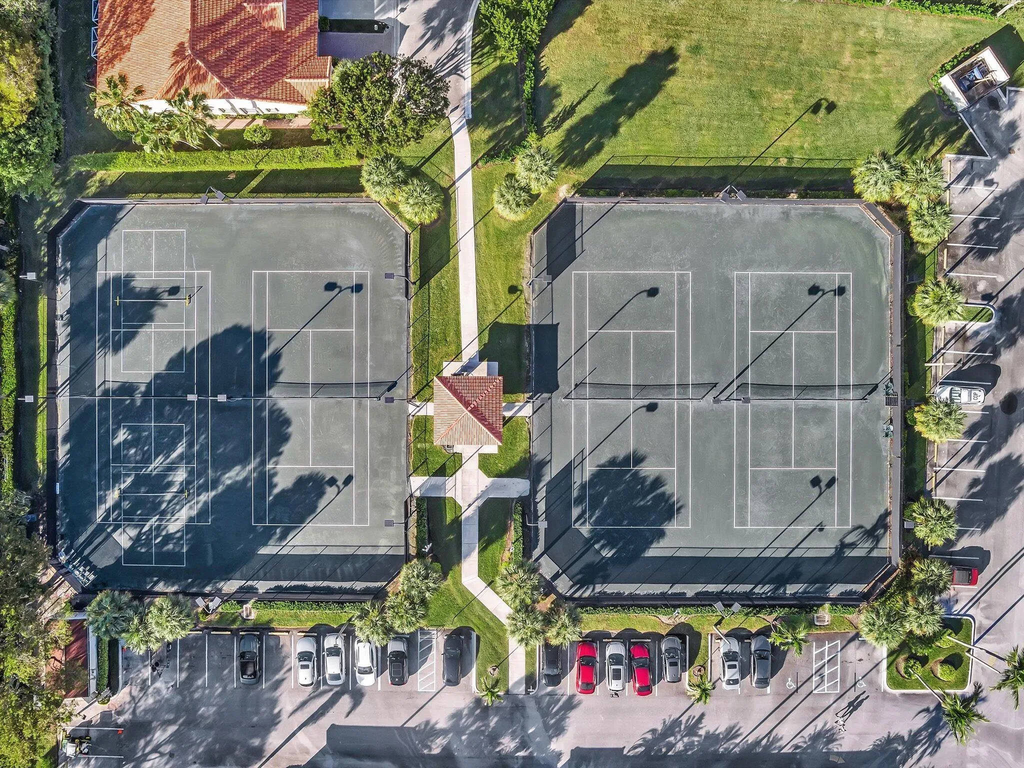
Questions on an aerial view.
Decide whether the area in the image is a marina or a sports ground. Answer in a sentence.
This looks like a sports ground.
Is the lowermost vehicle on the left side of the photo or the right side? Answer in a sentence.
The lowermost vehicle appears in the left half of the scene.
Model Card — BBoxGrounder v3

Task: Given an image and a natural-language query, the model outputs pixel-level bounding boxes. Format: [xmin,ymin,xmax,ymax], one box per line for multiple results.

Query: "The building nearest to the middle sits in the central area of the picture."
[433,376,503,446]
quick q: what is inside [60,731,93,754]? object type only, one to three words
vehicle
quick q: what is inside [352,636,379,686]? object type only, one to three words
car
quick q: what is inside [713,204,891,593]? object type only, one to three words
tennis court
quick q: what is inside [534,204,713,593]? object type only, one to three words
tennis court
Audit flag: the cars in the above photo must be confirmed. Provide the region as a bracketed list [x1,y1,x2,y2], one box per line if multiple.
[629,641,654,696]
[574,640,600,694]
[659,634,685,682]
[603,640,629,692]
[352,636,379,686]
[321,631,348,684]
[748,633,774,688]
[540,632,565,686]
[942,564,977,589]
[718,635,743,689]
[236,630,262,684]
[293,634,319,686]
[384,635,411,685]
[440,632,464,685]
[932,382,984,406]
